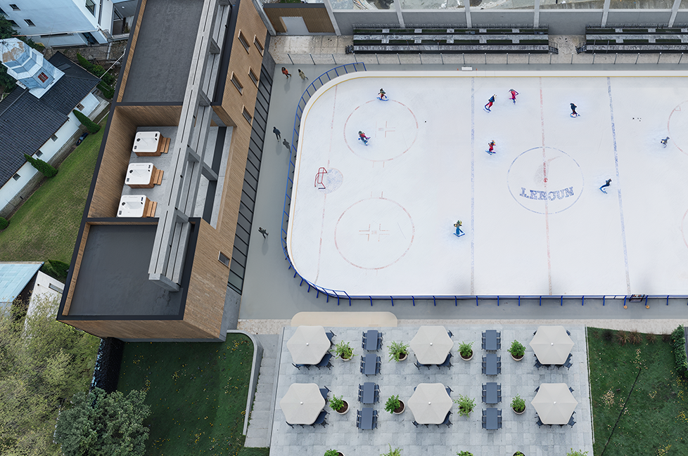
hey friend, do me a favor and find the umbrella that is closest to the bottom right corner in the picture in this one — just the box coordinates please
[530,383,578,426]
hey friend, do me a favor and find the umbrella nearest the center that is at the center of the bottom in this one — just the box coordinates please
[286,327,333,366]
